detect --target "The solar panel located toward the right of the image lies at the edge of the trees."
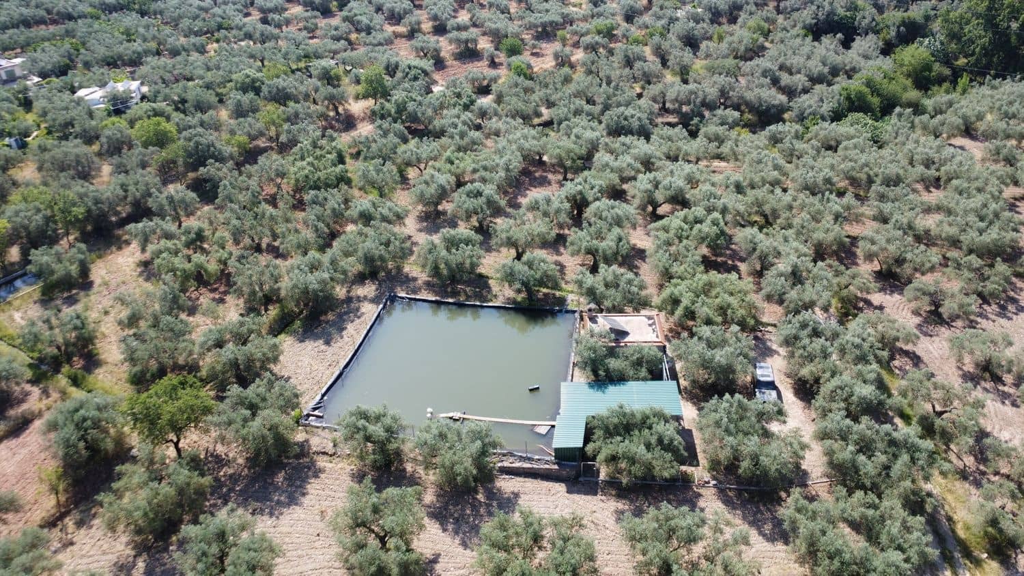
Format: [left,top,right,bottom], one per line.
[600,316,630,341]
